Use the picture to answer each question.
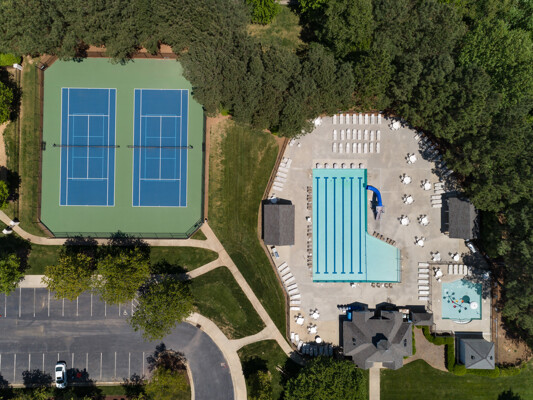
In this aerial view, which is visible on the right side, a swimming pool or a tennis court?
swimming pool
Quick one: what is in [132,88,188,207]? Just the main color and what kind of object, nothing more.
blue tennis court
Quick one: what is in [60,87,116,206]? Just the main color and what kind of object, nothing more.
blue tennis court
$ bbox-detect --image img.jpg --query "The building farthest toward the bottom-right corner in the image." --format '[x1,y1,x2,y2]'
[460,336,496,370]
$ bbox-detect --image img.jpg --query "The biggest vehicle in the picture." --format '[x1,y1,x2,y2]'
[52,363,66,389]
